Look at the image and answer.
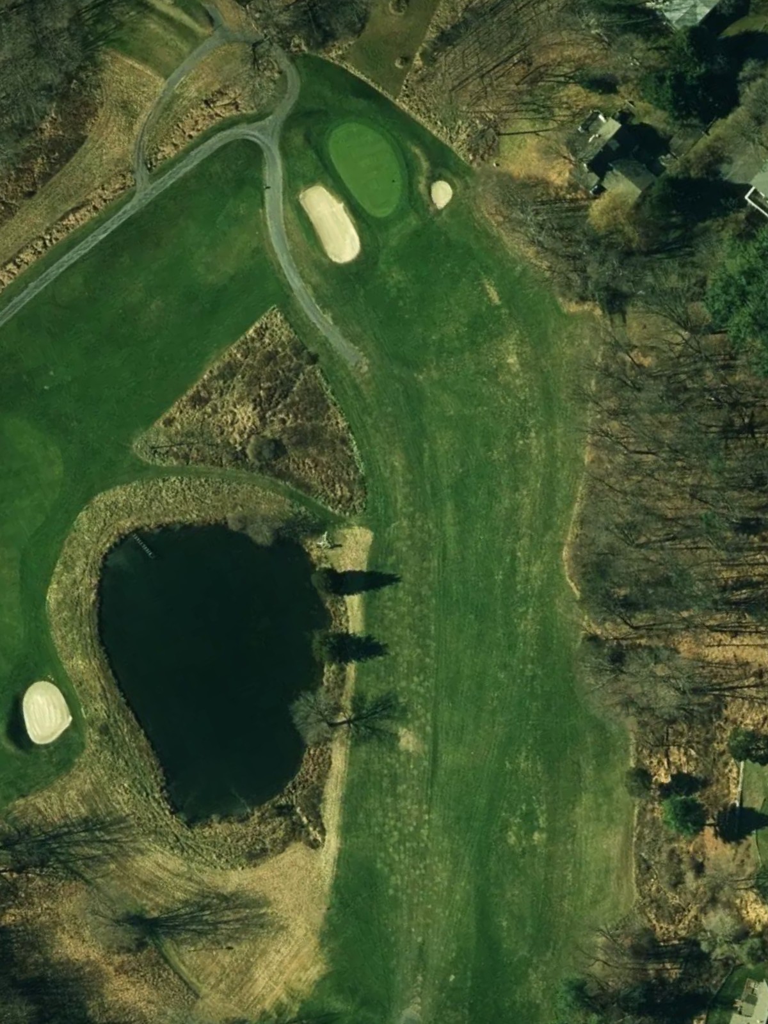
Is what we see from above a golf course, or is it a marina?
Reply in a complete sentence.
The picture captures a golf course.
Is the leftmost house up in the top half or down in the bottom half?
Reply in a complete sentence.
Seen from above, the leftmost house lies in the top half of the view.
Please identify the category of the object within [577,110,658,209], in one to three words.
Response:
house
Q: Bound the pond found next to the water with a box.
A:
[95,523,332,822]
